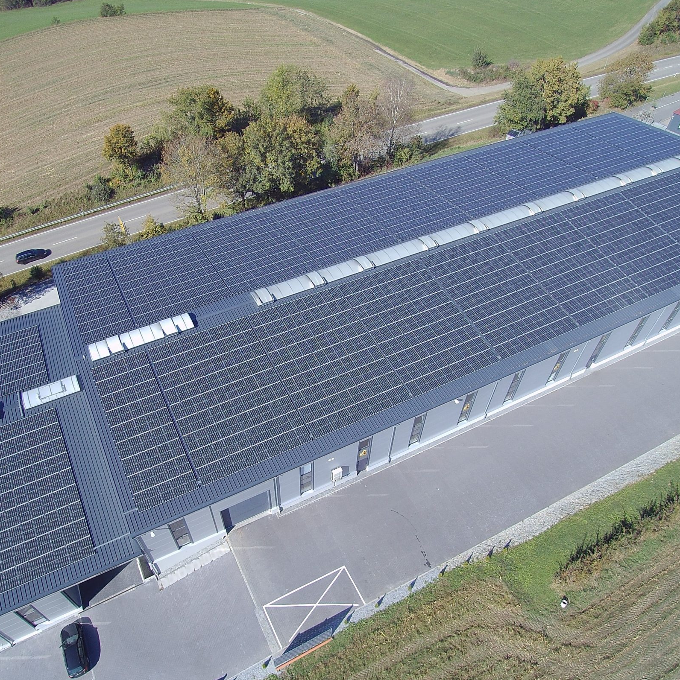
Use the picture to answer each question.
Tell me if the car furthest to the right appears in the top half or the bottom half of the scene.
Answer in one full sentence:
The car furthest to the right is in the bottom half of the image.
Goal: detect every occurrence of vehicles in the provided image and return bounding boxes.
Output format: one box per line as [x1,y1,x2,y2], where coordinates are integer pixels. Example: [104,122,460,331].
[58,618,88,679]
[12,247,50,266]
